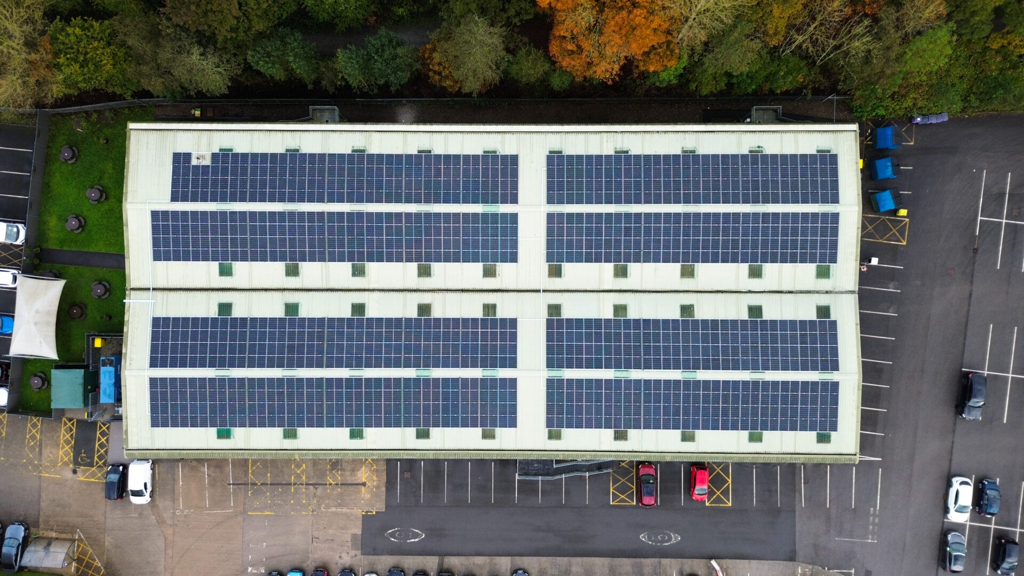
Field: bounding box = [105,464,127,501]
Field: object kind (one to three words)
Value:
car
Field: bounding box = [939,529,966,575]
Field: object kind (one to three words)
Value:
car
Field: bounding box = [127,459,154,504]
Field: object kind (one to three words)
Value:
vehicle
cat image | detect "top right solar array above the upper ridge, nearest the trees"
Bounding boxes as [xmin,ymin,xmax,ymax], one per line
[546,153,839,205]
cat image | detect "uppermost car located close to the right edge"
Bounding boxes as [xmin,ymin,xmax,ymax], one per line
[958,372,988,420]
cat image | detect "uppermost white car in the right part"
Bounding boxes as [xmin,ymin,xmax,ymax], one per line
[944,475,972,522]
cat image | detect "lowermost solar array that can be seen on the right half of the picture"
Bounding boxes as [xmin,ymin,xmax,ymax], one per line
[546,378,839,431]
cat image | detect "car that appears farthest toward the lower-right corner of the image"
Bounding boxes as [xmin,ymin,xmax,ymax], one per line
[991,534,1021,576]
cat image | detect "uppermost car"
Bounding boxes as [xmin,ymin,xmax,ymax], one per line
[0,222,25,244]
